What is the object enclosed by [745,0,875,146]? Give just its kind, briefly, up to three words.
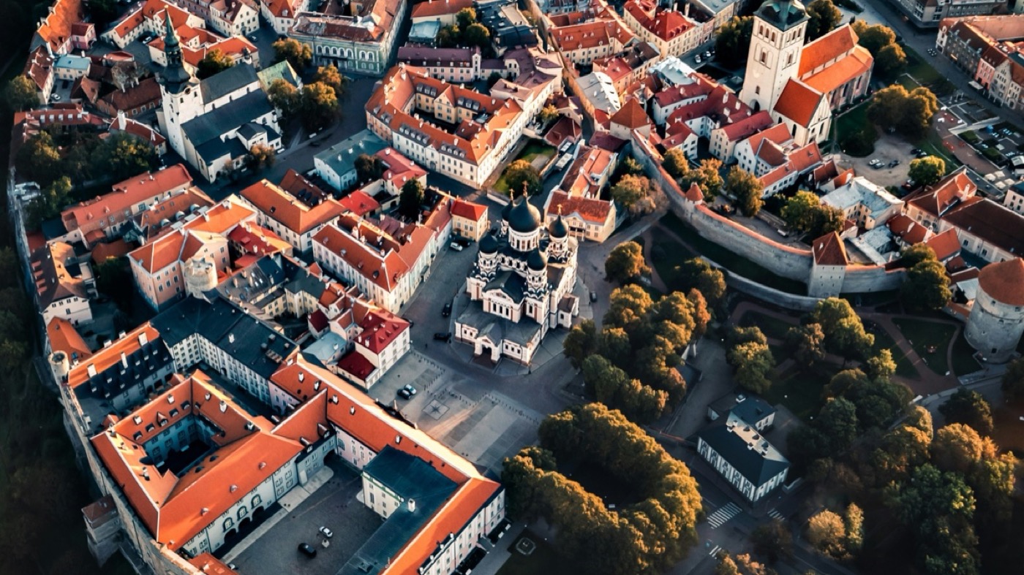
church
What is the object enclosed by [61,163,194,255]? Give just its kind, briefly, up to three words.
house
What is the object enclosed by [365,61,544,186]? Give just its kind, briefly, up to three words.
house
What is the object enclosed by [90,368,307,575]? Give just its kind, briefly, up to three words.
building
